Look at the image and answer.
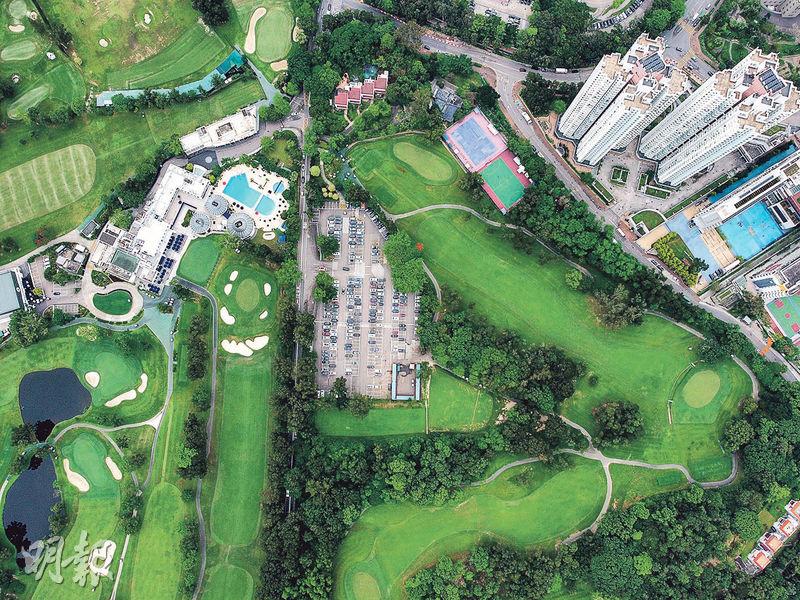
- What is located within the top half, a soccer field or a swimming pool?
swimming pool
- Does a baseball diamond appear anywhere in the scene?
No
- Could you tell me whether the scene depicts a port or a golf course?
golf course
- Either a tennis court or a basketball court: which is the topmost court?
tennis court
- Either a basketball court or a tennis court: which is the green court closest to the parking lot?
tennis court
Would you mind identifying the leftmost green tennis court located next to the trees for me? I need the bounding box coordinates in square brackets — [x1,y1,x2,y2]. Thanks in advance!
[473,148,534,216]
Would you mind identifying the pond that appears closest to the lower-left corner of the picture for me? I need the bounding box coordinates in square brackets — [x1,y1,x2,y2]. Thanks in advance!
[3,445,57,570]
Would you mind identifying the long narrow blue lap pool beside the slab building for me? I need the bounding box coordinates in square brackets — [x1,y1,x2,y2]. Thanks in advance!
[705,140,800,205]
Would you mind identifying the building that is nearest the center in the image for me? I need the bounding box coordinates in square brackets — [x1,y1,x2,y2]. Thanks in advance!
[391,363,420,400]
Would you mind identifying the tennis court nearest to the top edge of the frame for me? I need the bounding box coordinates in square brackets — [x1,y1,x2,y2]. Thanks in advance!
[443,106,509,173]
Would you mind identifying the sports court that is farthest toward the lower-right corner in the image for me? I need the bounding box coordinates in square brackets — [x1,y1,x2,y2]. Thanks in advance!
[768,289,800,339]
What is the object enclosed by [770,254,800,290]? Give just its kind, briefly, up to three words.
building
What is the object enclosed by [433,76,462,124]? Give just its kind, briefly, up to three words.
house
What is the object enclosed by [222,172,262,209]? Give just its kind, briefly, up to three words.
swimming pool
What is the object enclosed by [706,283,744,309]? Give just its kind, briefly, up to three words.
house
